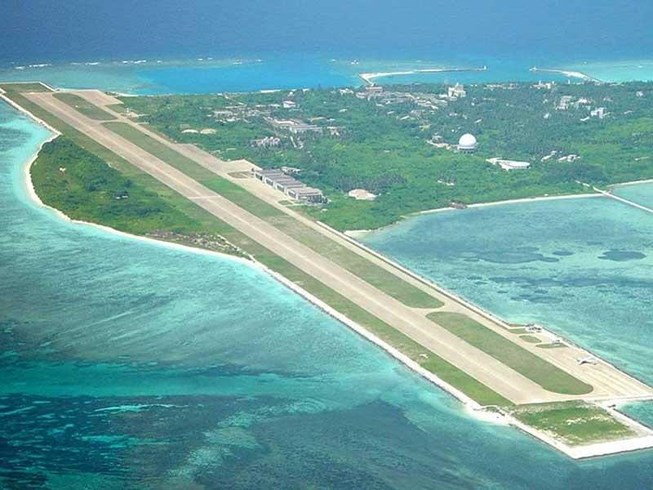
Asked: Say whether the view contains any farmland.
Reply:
No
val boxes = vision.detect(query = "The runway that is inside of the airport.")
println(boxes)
[20,91,562,405]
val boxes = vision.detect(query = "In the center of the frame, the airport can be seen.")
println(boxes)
[20,89,653,444]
